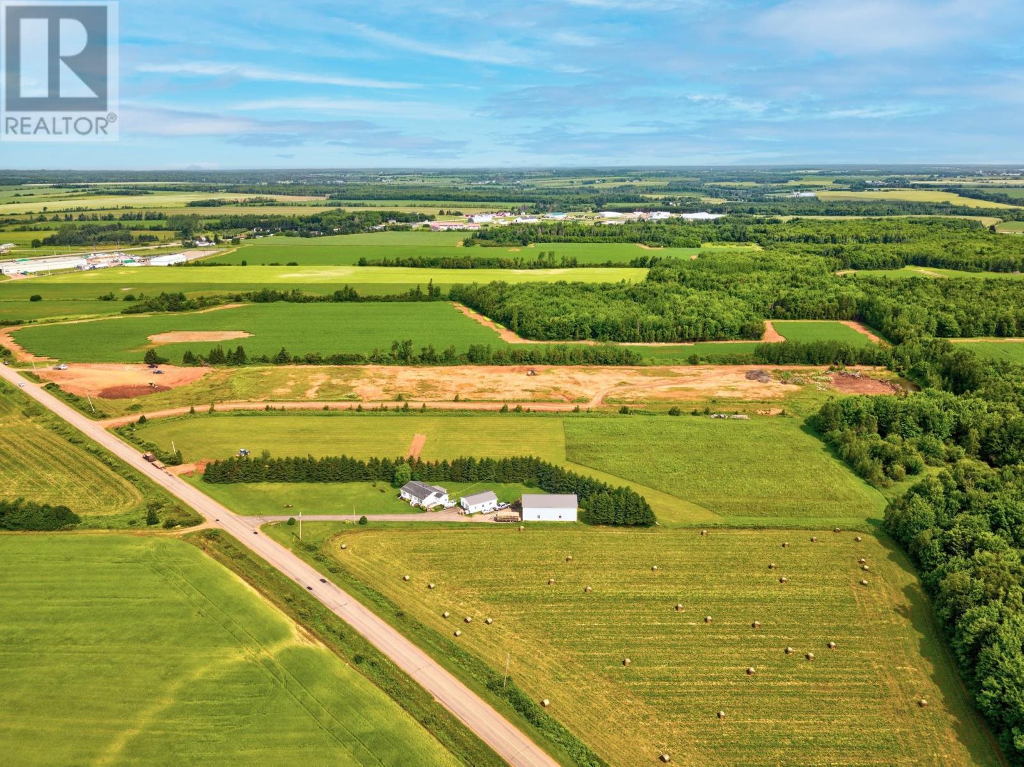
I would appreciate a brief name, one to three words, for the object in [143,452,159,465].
vehicle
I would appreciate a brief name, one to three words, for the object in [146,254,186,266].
shed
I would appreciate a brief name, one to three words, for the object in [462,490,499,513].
building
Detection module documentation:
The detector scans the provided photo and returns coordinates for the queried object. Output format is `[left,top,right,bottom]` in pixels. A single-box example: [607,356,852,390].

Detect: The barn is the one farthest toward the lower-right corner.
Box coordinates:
[522,491,577,521]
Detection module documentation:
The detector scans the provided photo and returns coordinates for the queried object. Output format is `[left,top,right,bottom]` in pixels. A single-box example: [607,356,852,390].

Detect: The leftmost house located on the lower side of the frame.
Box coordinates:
[399,479,457,511]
